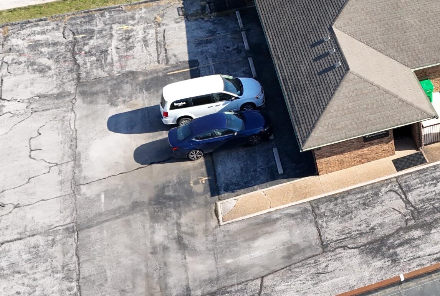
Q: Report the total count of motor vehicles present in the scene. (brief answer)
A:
two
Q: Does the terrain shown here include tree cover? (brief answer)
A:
No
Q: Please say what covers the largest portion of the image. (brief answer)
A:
paved ground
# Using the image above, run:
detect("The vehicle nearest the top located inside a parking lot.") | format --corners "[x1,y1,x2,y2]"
[154,69,267,125]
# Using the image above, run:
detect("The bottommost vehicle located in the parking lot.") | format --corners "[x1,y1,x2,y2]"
[162,106,275,161]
